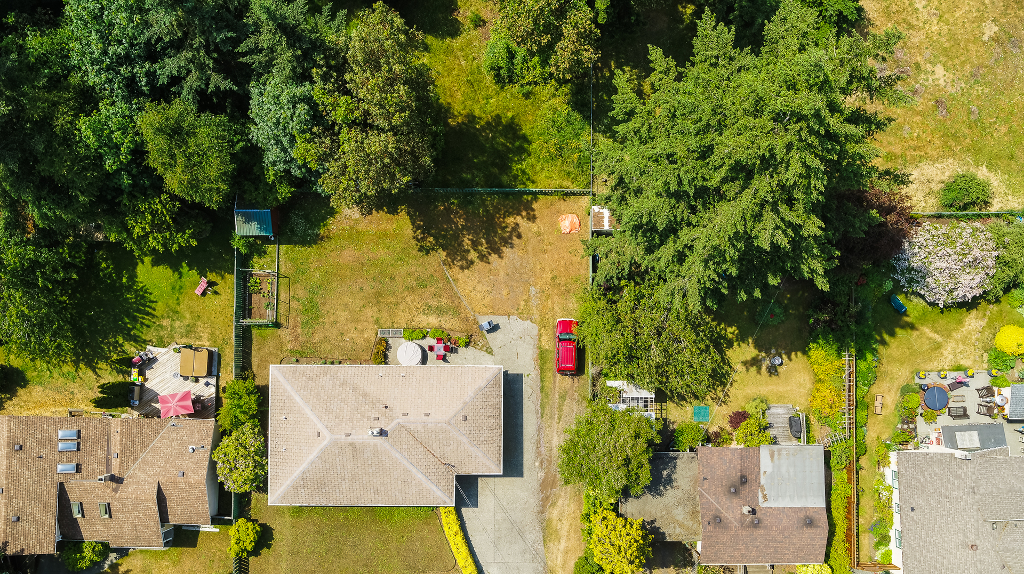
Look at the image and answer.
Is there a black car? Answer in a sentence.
No, I can see no black car in this picture.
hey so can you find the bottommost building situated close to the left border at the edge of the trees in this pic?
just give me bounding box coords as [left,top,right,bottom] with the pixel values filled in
[0,416,223,556]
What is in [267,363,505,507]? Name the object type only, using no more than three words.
house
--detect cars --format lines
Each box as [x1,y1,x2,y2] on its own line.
[554,320,578,381]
